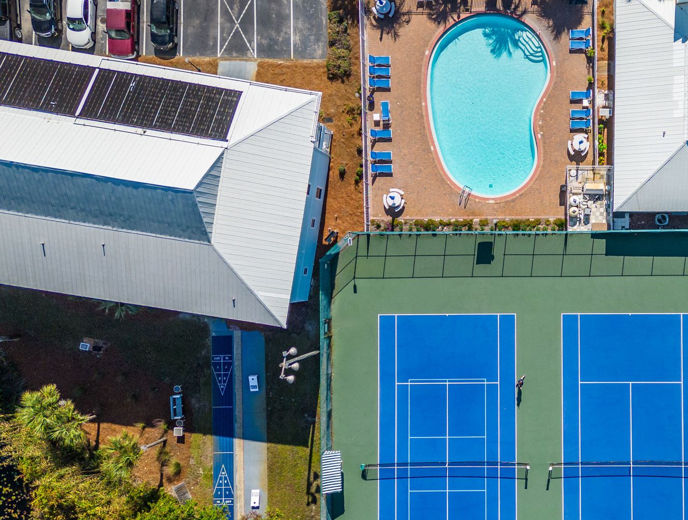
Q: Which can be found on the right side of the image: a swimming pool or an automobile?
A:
swimming pool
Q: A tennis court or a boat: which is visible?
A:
tennis court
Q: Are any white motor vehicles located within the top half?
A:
Yes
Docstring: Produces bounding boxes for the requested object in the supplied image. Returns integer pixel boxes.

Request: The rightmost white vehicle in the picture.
[64,0,98,48]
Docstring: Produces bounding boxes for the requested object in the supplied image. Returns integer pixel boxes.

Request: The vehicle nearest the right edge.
[146,0,178,50]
